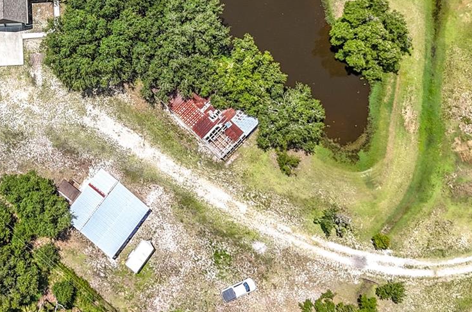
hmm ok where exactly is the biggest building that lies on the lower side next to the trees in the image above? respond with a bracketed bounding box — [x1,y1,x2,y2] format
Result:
[64,168,153,260]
